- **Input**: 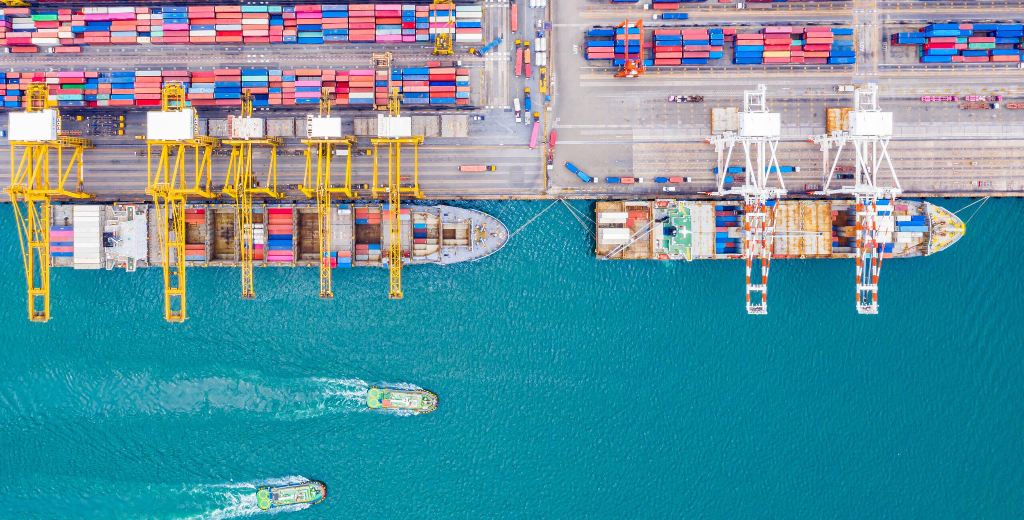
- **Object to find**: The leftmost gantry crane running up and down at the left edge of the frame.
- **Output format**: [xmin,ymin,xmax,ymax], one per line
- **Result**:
[9,82,97,322]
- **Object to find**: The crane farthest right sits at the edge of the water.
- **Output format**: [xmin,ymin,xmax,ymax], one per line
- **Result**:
[808,82,903,315]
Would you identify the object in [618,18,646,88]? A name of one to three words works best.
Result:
container crane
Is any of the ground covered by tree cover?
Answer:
No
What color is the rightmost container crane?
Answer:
white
